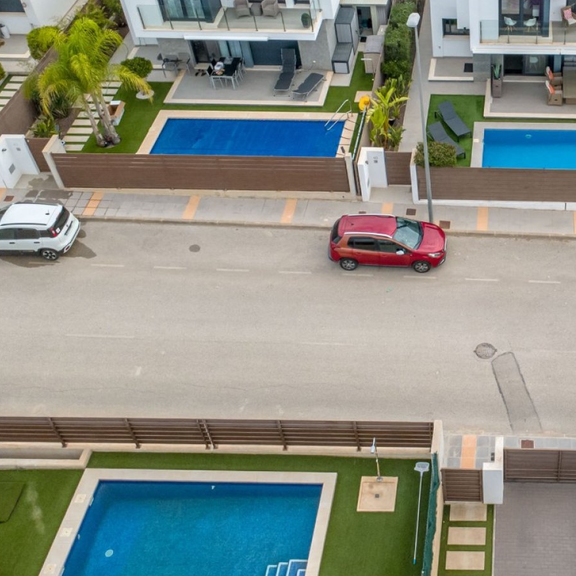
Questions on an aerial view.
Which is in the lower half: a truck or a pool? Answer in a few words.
pool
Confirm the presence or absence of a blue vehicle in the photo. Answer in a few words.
No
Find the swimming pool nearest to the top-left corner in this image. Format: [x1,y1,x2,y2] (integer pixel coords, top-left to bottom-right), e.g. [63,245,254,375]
[136,111,357,166]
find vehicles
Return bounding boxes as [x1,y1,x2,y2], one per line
[324,213,448,275]
[0,200,81,261]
